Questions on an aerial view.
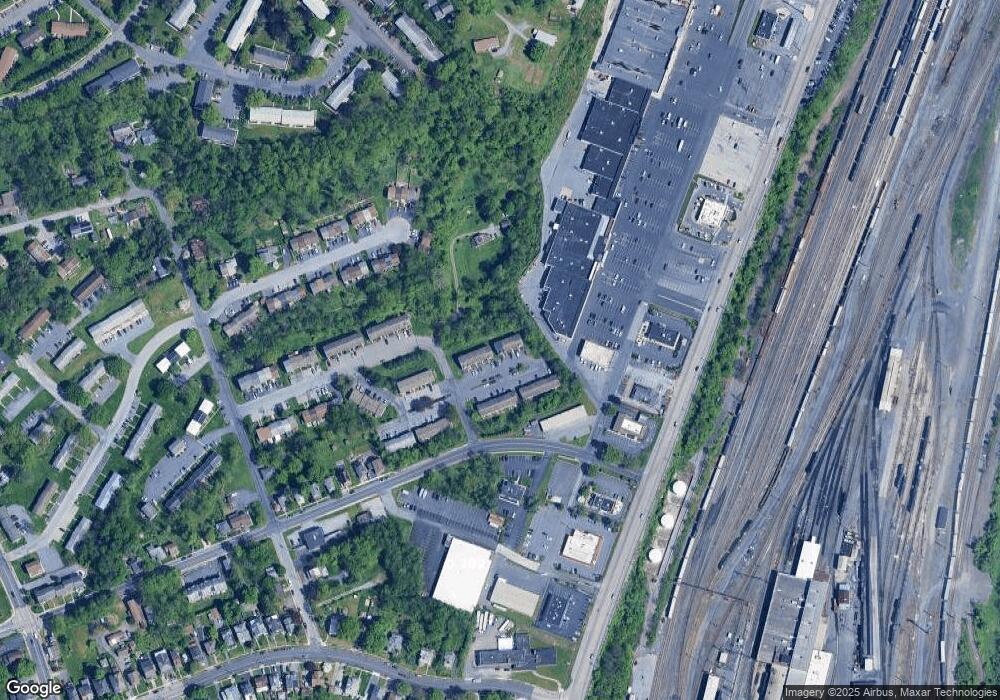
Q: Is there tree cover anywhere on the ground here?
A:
Yes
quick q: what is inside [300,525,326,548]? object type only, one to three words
house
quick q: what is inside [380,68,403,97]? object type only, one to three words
building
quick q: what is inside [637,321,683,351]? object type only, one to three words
building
